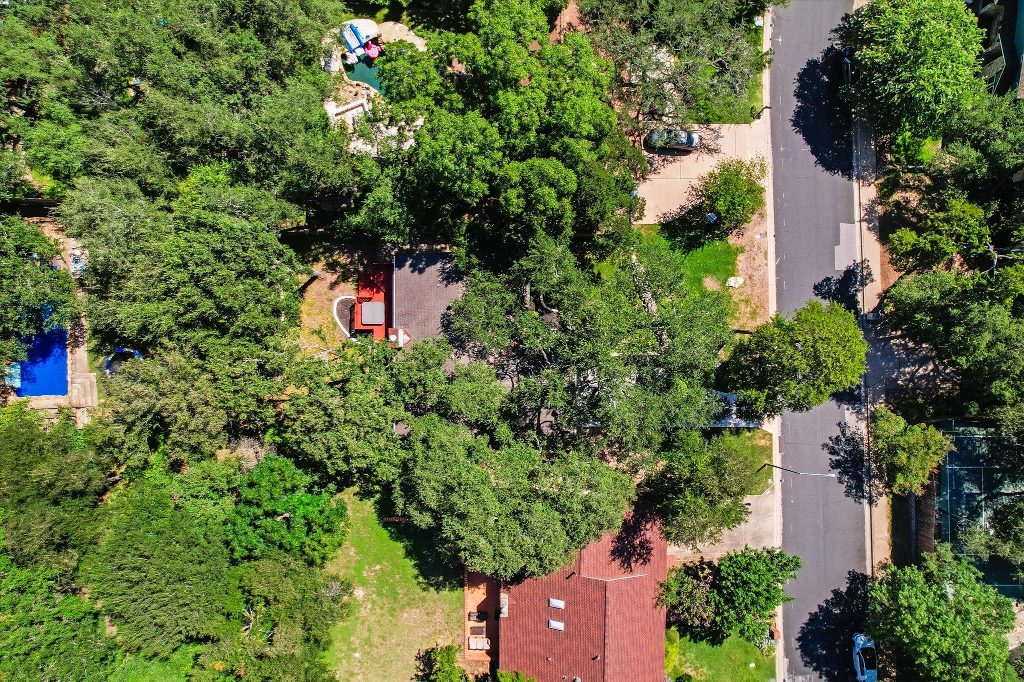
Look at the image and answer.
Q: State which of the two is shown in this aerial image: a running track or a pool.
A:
pool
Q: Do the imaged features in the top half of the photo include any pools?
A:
Yes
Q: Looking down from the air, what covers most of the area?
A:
trees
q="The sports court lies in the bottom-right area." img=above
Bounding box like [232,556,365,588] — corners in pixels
[936,421,1024,598]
